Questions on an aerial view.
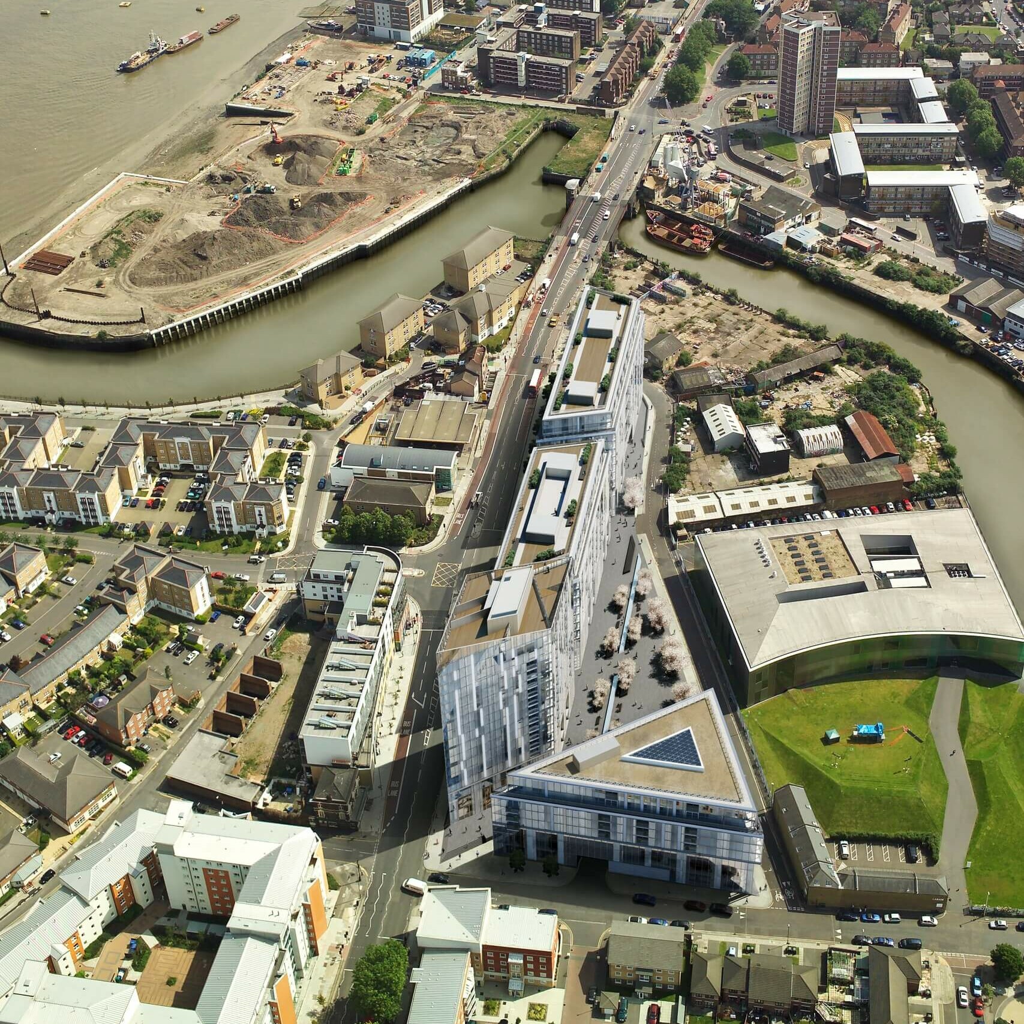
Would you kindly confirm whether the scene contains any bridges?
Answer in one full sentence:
Yes, the frame does contain a bridge.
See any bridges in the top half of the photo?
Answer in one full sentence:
Yes, a bridge shows up in the top half of the photo.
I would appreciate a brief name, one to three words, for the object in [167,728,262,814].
shed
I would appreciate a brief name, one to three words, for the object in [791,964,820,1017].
house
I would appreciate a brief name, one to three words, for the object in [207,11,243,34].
vessel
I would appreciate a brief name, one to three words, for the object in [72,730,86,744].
car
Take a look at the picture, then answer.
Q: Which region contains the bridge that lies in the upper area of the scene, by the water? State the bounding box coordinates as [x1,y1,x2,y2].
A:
[549,159,646,249]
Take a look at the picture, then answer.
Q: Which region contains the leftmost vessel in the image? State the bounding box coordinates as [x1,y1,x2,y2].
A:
[116,27,175,73]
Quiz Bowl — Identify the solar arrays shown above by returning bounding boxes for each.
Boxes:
[628,731,699,768]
